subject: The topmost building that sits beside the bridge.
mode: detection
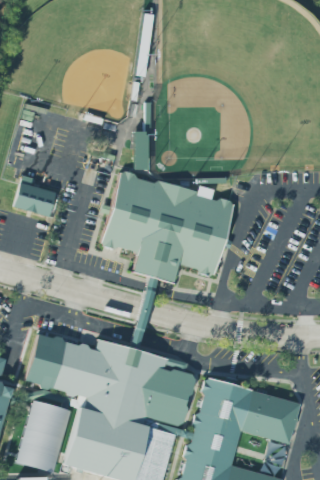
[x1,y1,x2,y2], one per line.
[100,170,234,285]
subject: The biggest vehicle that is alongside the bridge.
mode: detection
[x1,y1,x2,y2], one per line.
[104,309,132,322]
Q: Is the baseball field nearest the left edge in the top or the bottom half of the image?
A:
top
